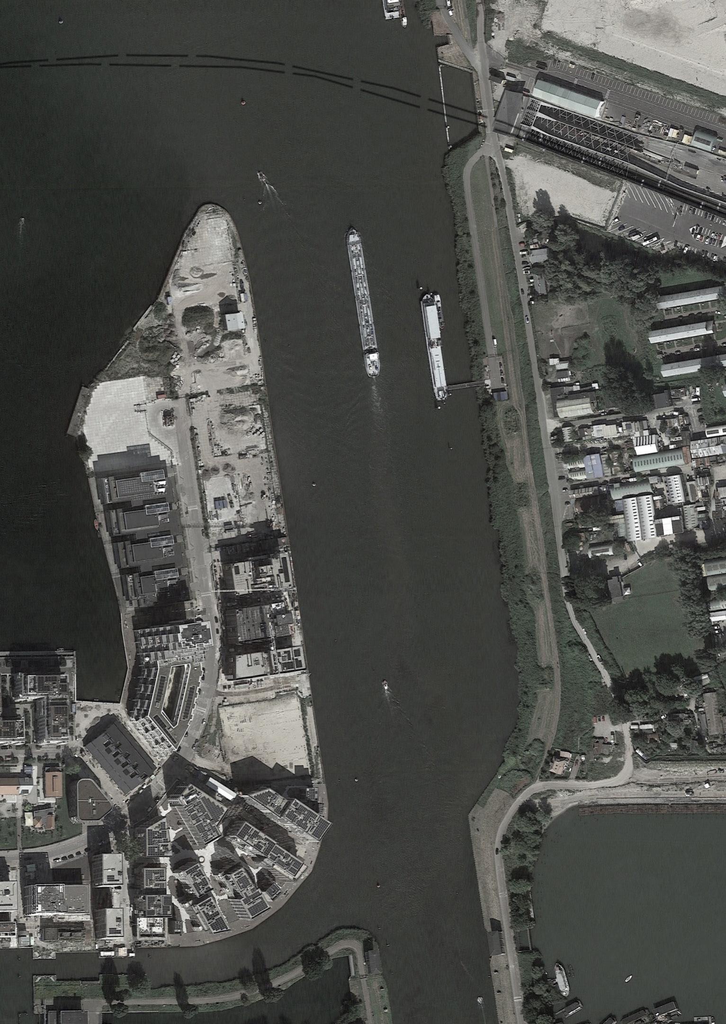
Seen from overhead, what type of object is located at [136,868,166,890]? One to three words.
building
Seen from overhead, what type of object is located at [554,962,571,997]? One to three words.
vessel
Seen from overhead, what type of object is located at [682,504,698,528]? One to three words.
shed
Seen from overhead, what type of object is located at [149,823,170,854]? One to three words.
solar array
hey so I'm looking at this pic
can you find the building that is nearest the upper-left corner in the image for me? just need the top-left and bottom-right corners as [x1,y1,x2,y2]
[222,312,245,331]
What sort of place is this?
port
